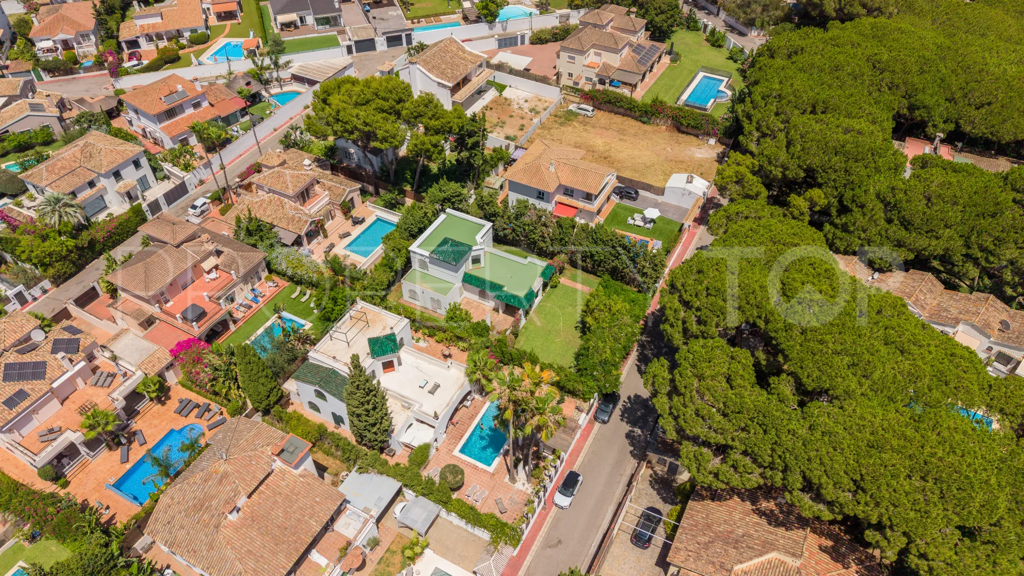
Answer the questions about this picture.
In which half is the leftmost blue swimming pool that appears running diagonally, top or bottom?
bottom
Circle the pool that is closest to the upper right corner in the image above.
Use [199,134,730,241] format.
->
[681,72,733,111]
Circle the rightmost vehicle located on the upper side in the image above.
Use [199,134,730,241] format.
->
[611,182,644,200]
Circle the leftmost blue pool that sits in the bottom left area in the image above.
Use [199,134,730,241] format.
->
[112,421,207,499]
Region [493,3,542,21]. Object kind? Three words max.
swimming pool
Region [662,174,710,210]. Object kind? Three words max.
shed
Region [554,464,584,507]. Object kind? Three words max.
car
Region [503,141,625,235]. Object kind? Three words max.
house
